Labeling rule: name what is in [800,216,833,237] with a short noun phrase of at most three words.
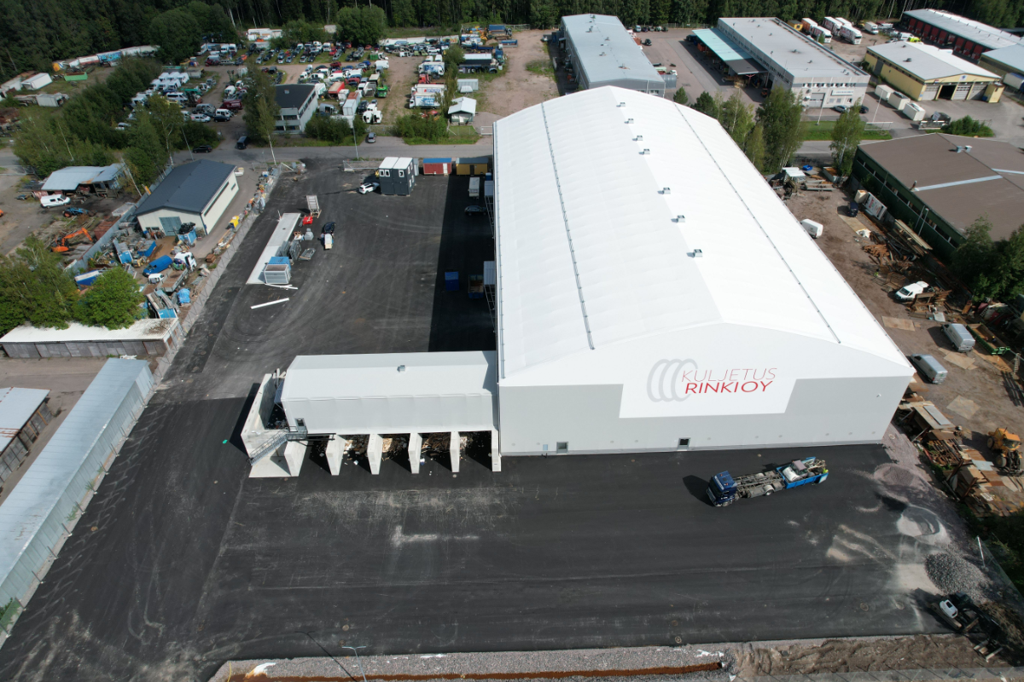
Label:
vehicle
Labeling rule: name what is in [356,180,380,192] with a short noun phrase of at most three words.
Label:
vehicle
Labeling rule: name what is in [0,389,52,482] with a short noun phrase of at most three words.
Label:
shed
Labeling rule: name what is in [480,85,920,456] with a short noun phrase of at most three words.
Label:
building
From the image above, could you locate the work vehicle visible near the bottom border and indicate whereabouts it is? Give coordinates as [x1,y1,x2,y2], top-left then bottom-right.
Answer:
[932,596,1011,652]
